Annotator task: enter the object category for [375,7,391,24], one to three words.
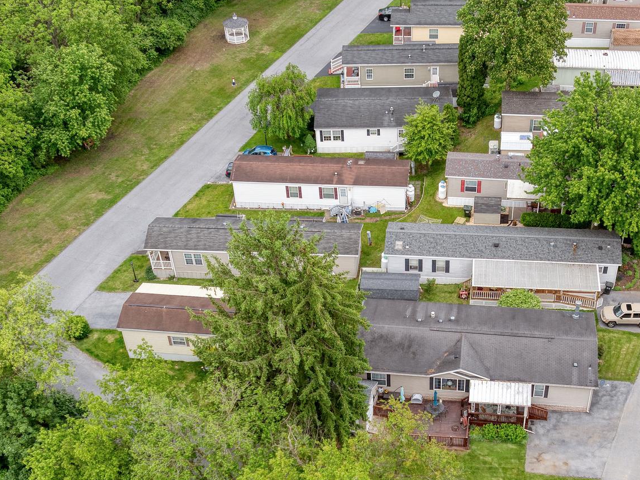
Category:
car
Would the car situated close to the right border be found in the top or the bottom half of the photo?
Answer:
bottom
